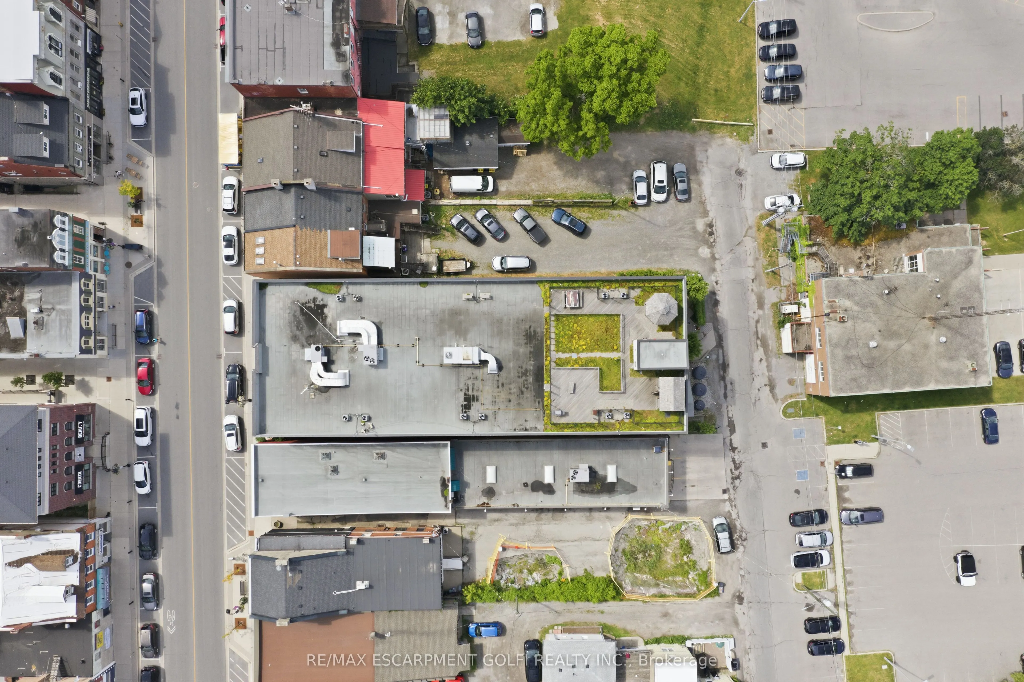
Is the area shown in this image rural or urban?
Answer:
urban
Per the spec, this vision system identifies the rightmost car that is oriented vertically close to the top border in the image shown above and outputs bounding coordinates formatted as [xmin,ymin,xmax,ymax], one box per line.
[527,1,546,42]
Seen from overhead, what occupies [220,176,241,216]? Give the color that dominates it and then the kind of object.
white car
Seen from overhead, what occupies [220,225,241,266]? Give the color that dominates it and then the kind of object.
white car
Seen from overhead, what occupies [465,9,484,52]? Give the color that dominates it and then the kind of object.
gray car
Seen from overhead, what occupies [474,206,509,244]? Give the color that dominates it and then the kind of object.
gray car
